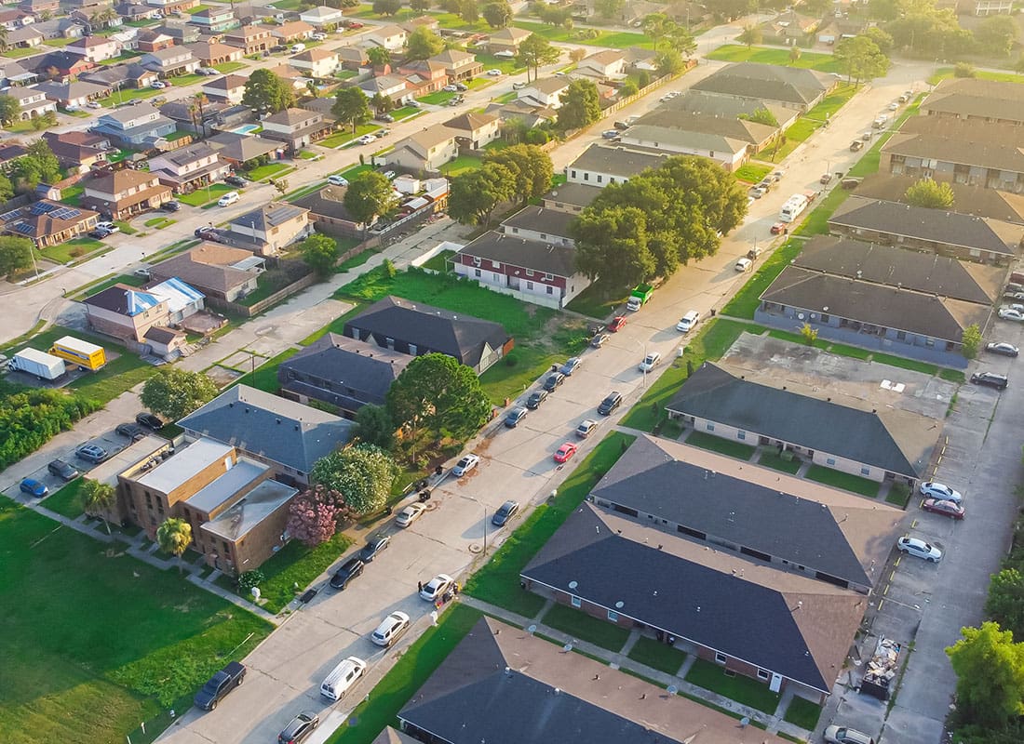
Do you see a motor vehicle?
Yes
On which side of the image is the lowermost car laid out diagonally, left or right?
left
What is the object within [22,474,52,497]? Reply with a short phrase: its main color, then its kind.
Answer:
blue car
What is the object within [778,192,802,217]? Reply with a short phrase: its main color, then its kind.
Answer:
white camper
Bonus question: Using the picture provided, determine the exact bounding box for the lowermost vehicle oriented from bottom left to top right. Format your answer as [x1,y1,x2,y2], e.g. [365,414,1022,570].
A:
[264,711,310,744]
